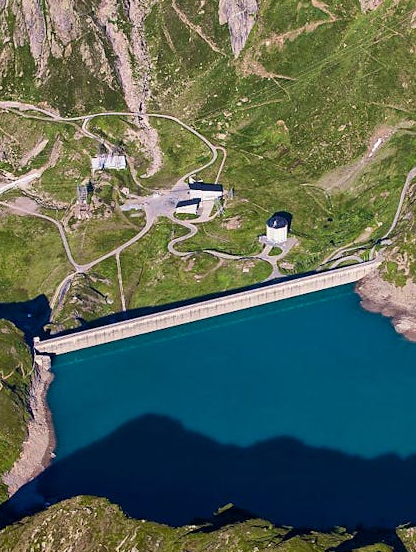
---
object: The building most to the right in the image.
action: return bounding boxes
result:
[265,212,287,243]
